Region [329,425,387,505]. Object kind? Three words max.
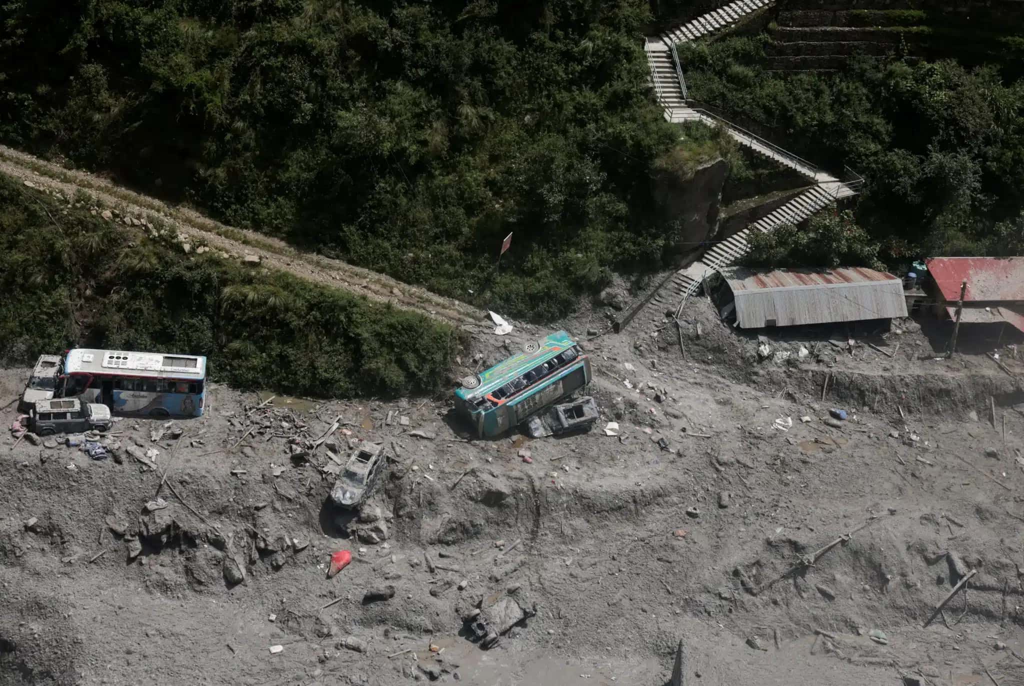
car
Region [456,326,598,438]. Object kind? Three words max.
bus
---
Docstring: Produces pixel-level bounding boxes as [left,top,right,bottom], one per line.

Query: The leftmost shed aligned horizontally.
[718,268,908,340]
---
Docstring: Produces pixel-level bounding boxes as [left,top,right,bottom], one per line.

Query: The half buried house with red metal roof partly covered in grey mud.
[927,255,1024,342]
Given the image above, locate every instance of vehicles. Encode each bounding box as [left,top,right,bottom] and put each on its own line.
[59,353,212,413]
[523,392,601,443]
[329,425,387,505]
[13,355,64,416]
[456,326,598,438]
[27,396,113,436]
